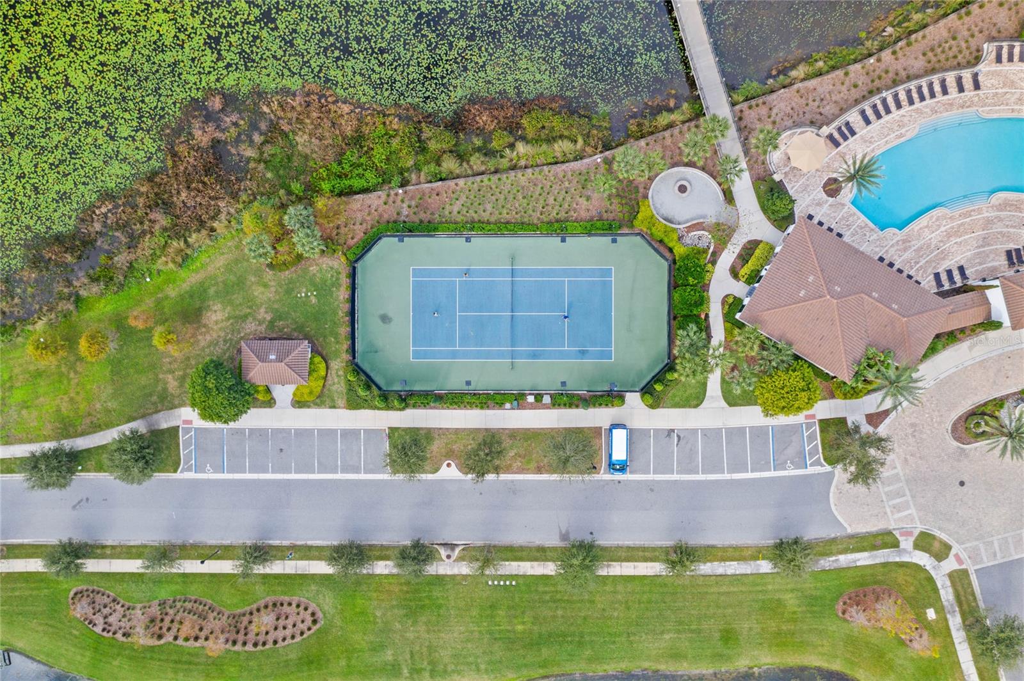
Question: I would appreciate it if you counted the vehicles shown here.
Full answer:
Altogether the scene contains 1 vehicle.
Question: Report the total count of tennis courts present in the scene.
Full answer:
Only 1 tennis court is visible.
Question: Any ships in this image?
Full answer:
No, there isn't any ship down there.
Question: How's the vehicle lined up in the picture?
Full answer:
The vehicle has been laid out vertically relative to the frame.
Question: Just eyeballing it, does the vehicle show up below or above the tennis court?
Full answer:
In the image, the vehicle appears below the tennis court.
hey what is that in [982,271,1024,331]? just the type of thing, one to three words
building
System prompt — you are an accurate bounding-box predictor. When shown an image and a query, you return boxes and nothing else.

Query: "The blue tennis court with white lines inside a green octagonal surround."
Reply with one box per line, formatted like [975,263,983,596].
[356,235,667,390]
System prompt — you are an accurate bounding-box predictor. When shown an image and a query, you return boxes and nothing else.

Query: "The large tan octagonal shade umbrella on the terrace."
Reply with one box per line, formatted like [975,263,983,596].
[793,129,833,169]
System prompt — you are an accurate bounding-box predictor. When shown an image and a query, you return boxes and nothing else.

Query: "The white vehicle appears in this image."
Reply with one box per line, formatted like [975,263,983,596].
[607,424,629,475]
